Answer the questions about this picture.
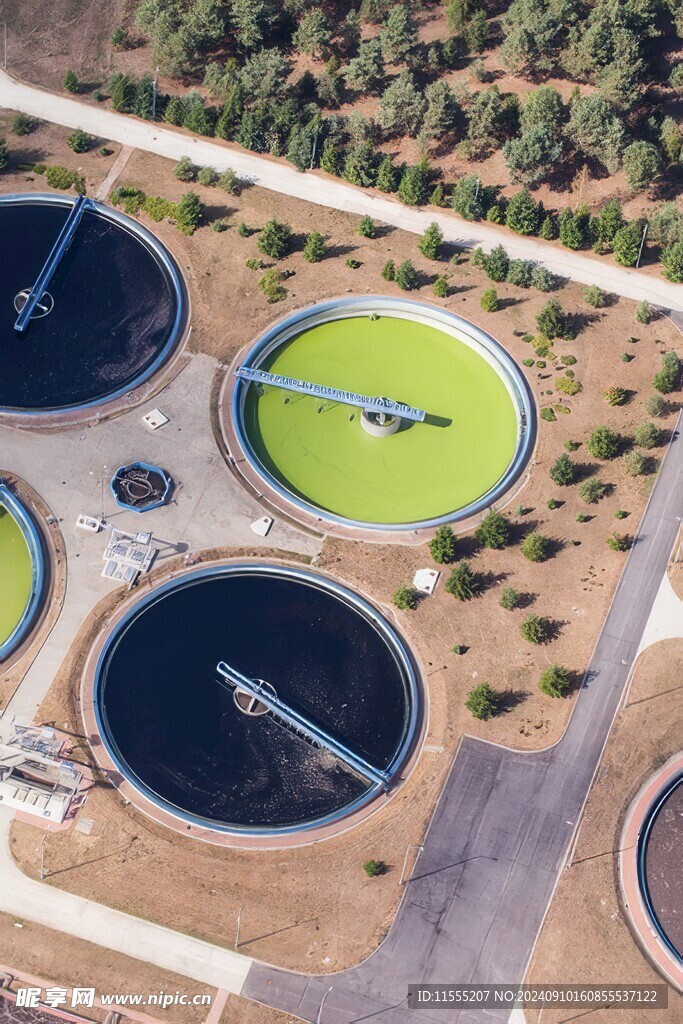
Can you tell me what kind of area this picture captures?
industrial area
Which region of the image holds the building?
bottom left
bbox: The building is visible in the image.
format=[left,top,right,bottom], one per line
[0,754,90,827]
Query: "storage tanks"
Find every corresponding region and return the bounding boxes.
[618,748,683,992]
[0,478,54,675]
[218,296,535,543]
[0,191,192,431]
[79,560,430,853]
